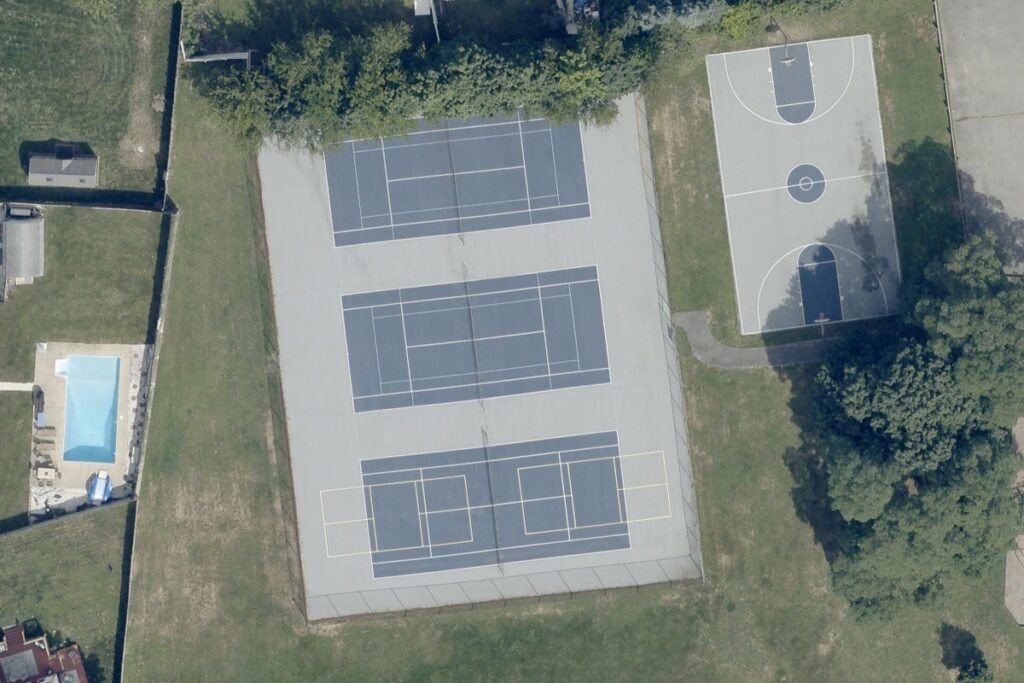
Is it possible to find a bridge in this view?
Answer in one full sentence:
No, no bridge is visible in the view.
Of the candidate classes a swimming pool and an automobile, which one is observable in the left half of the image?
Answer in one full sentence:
There is a swimming pool in the left half of the image.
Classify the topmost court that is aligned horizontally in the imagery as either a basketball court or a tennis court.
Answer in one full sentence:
The topmost court that is aligned horizontally can be classified as a tennis court.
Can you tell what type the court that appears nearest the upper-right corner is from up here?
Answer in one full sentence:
In the photo, the court that appears nearest the upper-right corner shows up as a basketball court.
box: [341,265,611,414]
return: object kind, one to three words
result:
tennis court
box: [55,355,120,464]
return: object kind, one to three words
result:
swimming pool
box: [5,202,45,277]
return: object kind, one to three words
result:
shed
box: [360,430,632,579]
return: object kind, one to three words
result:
tennis court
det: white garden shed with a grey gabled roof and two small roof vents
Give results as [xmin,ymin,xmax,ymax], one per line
[28,143,99,187]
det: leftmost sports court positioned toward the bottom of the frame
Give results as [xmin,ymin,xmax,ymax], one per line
[320,475,473,557]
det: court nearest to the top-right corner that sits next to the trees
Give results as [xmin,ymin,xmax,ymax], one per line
[706,34,905,335]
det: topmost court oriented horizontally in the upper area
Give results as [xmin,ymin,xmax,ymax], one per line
[321,101,592,248]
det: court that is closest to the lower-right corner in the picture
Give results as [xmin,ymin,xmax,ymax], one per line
[518,451,672,535]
